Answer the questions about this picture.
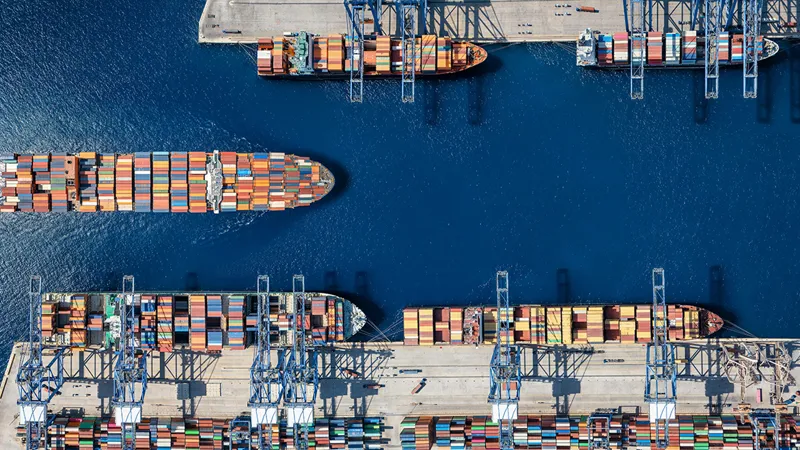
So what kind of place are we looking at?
port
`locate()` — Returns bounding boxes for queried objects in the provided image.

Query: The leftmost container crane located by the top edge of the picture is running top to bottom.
[341,0,385,105]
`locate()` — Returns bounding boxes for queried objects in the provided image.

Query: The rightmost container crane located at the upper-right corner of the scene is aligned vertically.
[720,0,765,105]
